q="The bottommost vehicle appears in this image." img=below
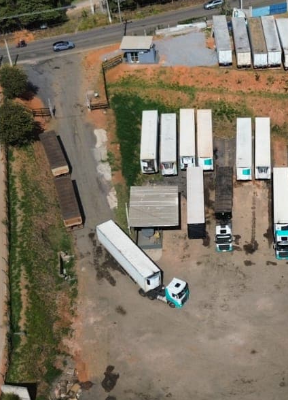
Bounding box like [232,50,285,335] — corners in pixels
[139,274,187,304]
